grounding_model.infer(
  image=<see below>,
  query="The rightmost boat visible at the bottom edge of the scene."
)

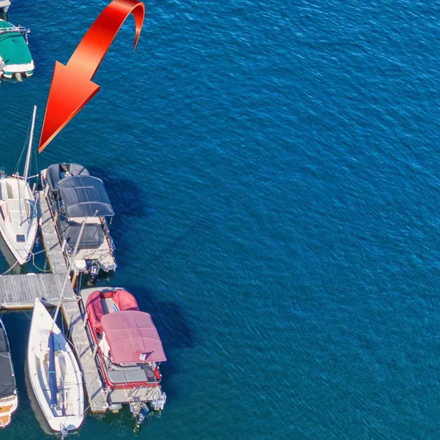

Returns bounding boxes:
[75,295,166,423]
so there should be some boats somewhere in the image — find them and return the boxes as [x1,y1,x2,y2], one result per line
[26,214,94,440]
[0,317,29,429]
[75,295,166,423]
[41,166,118,285]
[0,20,35,84]
[0,106,38,282]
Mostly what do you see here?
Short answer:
water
